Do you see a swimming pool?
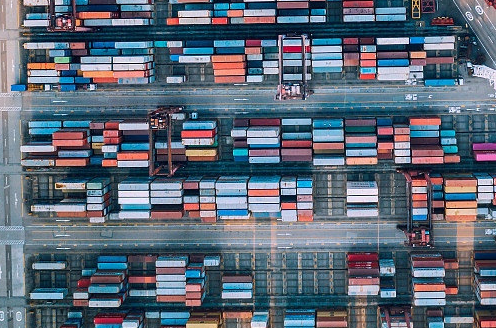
No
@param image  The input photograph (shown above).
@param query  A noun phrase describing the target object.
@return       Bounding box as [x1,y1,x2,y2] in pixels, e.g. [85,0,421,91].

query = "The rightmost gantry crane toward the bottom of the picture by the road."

[396,163,435,244]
